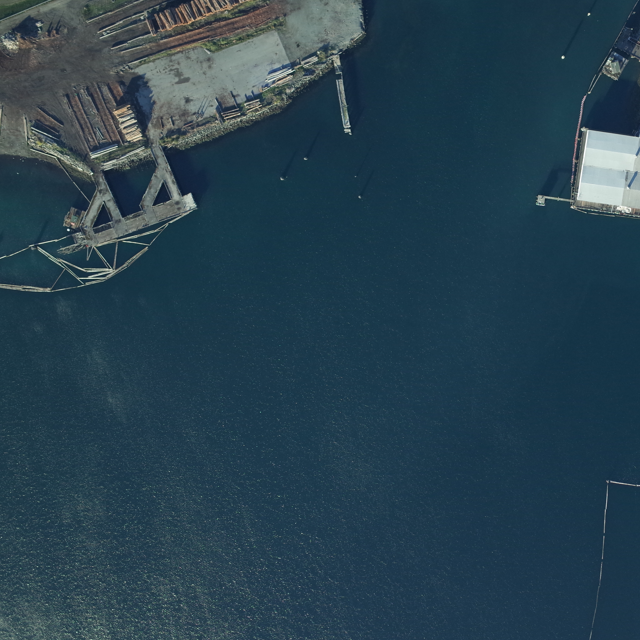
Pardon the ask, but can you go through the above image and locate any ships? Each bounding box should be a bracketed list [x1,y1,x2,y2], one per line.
[601,52,629,80]
[63,207,85,229]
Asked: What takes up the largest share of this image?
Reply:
water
